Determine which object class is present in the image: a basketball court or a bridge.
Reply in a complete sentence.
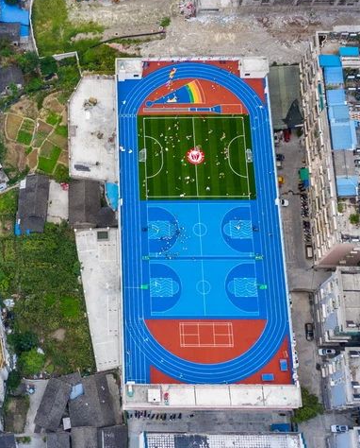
I can see a basketball court in this picture.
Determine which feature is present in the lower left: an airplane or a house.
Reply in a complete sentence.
There is a house in the lower left.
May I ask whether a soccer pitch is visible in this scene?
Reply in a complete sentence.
Yes, there's a soccer pitch here.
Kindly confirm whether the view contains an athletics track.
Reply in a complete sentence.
Yes, I can see an athletics track in this picture.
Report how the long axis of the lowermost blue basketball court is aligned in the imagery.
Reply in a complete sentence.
In this picture, the lowermost blue basketball court lies from left to right.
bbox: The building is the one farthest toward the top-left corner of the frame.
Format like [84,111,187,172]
[0,23,19,48]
